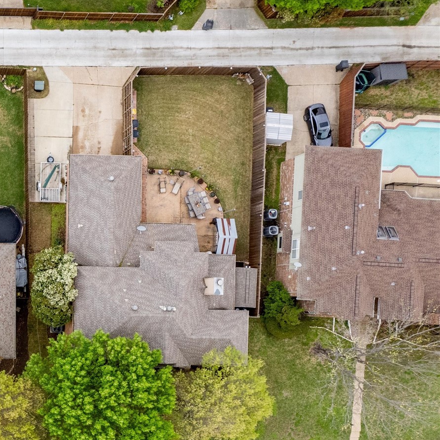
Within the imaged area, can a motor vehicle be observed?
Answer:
Yes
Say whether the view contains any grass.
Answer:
Yes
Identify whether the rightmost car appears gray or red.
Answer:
gray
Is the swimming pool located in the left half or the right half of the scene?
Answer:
right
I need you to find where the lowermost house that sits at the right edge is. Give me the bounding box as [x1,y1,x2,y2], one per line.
[268,145,440,328]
